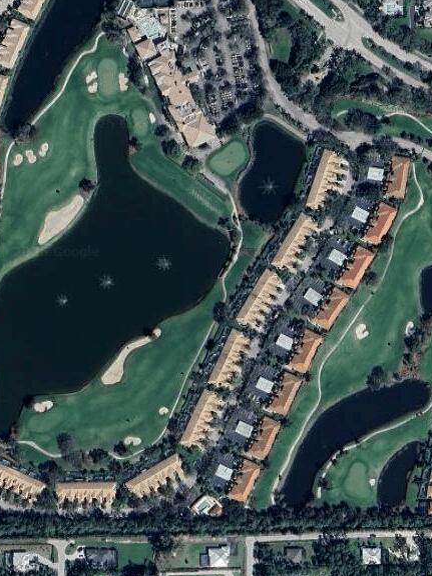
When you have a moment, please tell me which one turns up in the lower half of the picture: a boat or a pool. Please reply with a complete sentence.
It is a pool that can be seen in the lower half of the picture.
